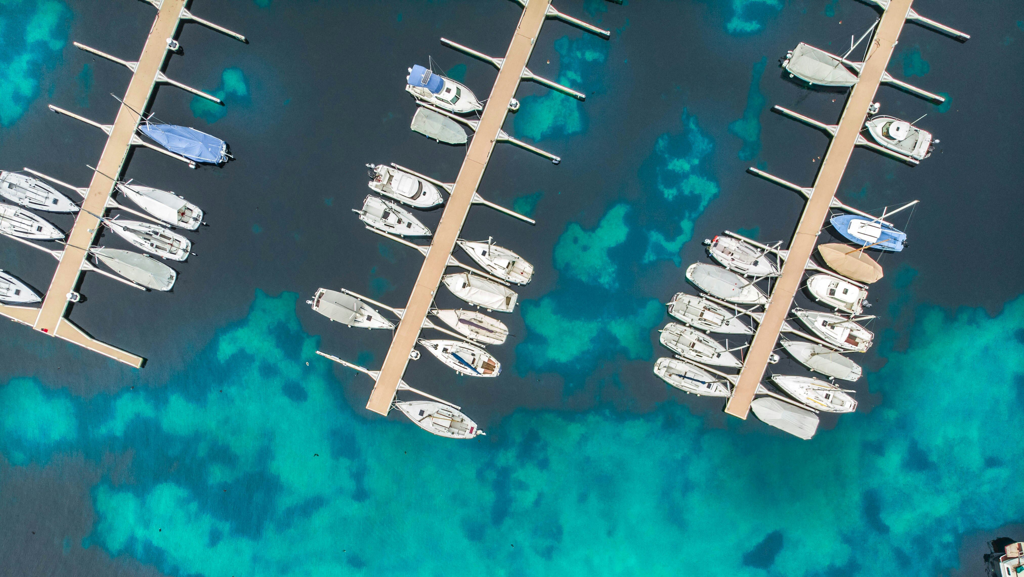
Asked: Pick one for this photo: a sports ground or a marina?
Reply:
marina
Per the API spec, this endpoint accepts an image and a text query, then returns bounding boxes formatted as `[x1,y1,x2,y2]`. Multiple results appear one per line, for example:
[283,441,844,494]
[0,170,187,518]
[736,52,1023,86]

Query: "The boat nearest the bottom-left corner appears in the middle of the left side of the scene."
[0,270,48,314]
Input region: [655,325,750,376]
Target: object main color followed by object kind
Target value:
white boat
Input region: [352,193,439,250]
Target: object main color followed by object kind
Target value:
white boat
